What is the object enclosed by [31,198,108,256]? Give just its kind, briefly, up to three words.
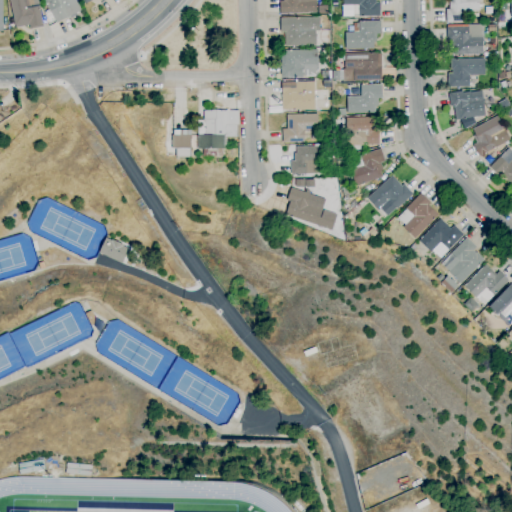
tennis court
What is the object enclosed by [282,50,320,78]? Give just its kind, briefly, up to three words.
house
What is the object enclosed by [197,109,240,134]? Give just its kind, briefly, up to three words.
building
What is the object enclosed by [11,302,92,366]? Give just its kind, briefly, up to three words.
tennis court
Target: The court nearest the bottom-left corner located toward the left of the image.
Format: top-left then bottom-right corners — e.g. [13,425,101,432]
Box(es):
[0,332,28,380]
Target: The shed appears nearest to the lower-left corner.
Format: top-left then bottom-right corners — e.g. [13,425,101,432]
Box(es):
[19,460,46,475]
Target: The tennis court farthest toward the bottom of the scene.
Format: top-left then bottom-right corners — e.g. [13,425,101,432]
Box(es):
[160,356,240,422]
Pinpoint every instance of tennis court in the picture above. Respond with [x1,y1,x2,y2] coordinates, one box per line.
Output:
[100,321,179,388]
[0,234,36,277]
[0,332,28,380]
[160,356,240,422]
[11,302,92,366]
[31,198,108,256]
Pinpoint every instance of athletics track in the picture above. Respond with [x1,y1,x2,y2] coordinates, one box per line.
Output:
[0,477,289,512]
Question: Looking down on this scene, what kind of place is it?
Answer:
residential area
